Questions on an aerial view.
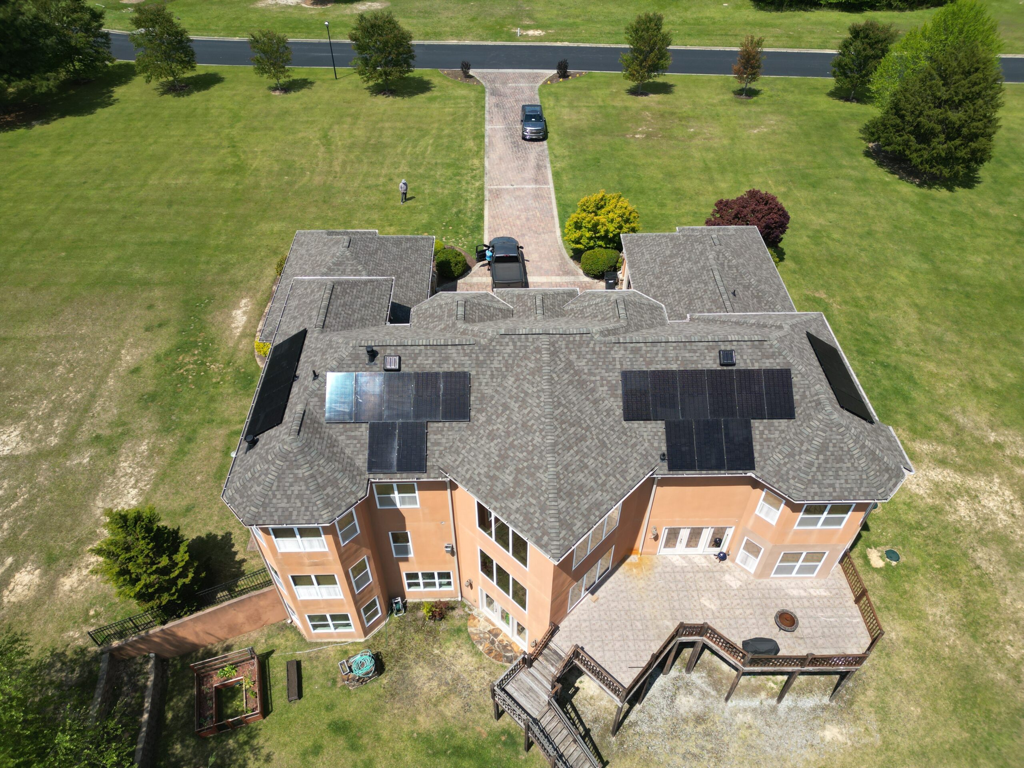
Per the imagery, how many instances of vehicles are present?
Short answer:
2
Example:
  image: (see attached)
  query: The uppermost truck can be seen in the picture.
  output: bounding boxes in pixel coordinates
[519,93,549,134]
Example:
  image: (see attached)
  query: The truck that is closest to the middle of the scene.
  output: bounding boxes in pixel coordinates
[475,230,527,289]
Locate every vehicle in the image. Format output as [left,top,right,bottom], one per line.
[519,93,549,134]
[475,230,527,289]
